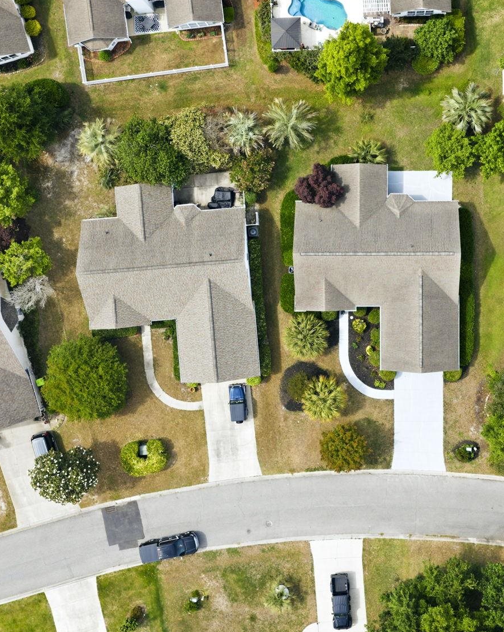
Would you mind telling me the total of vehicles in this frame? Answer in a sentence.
In total, there are 4 vehicles in the scene.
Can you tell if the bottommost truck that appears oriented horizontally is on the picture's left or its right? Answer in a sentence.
It is on the left.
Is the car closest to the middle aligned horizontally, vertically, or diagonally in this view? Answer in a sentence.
In this picture, the car closest to the middle lies vertically.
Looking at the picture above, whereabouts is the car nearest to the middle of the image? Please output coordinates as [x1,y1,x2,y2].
[225,381,250,428]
